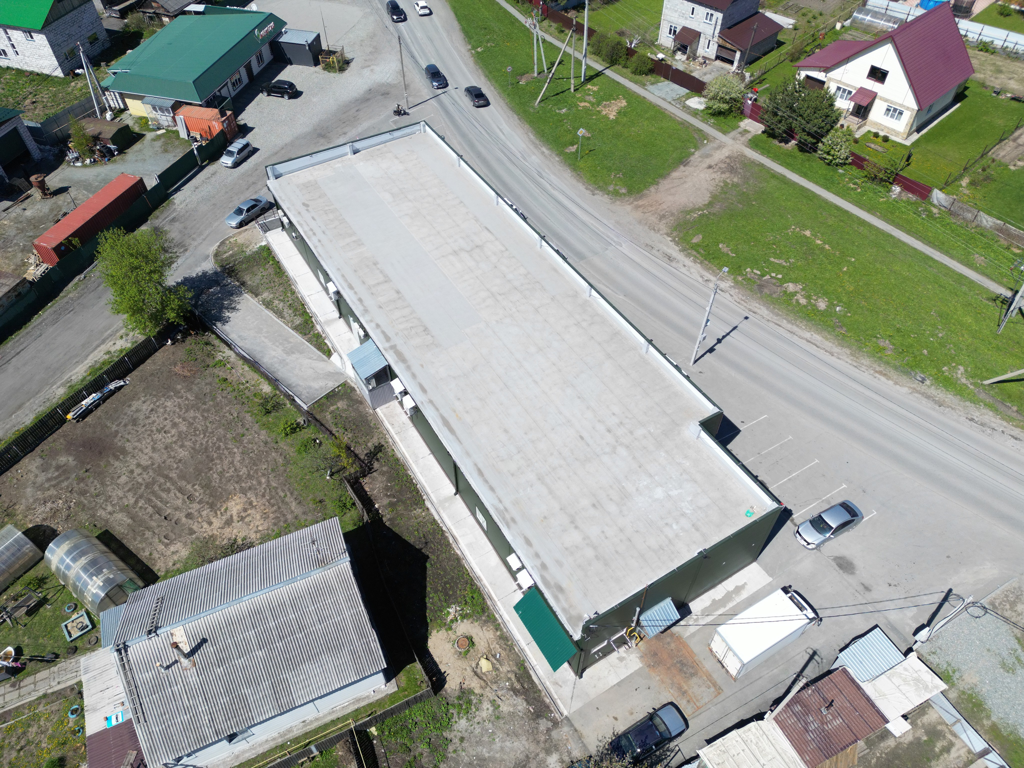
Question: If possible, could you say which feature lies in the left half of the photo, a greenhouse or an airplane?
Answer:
greenhouse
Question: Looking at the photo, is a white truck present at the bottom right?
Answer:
Yes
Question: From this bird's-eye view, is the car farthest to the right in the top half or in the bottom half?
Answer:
bottom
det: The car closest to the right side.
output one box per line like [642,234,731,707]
[795,501,865,552]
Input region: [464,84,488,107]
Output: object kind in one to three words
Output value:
car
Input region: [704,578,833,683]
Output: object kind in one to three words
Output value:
truck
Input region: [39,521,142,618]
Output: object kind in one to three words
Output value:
greenhouse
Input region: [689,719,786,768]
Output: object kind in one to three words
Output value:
shed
